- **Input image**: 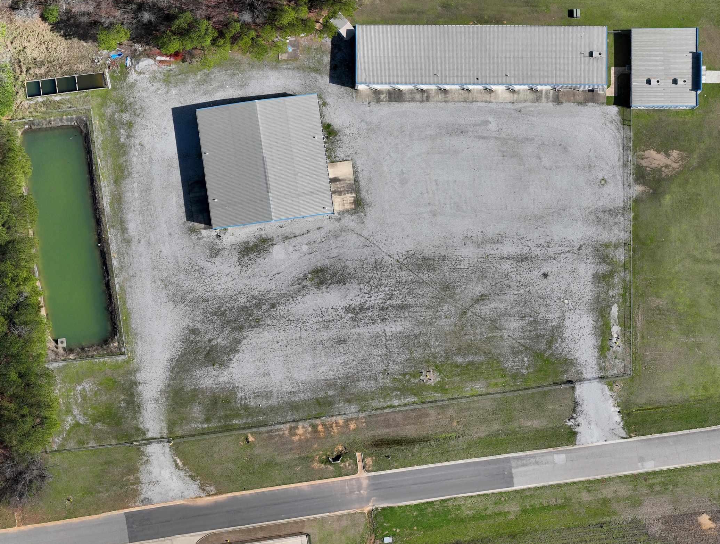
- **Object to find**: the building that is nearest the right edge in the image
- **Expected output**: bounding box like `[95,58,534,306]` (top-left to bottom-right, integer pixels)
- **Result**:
[629,27,706,113]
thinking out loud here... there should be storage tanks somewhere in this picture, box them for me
[25,70,110,98]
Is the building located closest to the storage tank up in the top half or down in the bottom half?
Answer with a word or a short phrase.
top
